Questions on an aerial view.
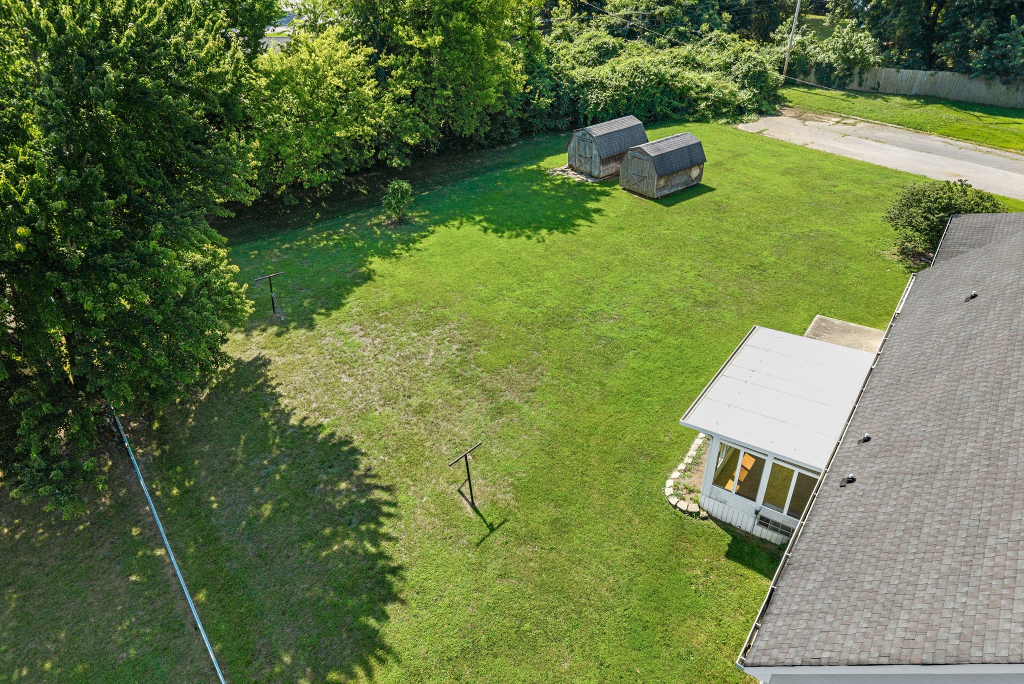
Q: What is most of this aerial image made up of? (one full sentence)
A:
What you mostly see from above here is grass.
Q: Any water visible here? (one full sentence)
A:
No, there's no water in this view.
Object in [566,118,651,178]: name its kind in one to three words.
shed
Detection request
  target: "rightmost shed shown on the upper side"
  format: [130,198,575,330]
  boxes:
[619,133,710,199]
